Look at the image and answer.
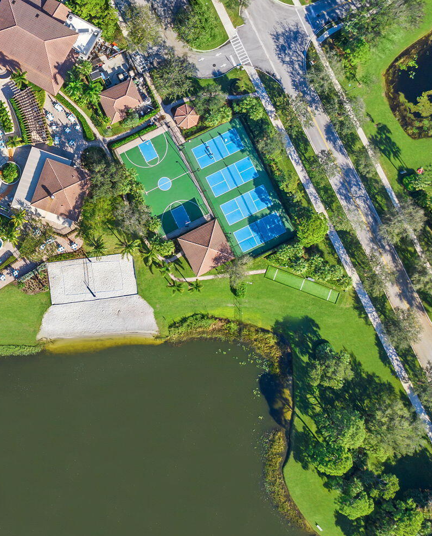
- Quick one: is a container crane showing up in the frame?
No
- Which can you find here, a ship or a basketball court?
basketball court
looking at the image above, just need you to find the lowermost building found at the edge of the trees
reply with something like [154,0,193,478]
[175,218,235,277]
